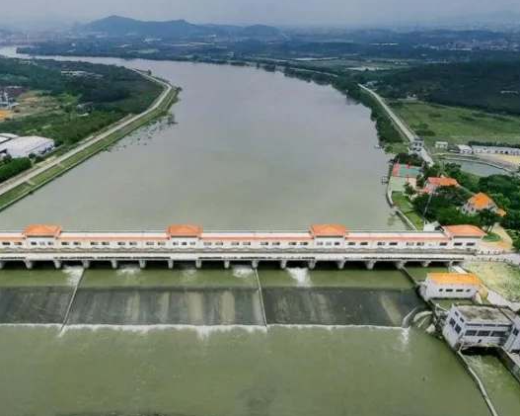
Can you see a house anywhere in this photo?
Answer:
Yes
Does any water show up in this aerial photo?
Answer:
Yes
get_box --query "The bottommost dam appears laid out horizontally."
[0,290,421,326]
